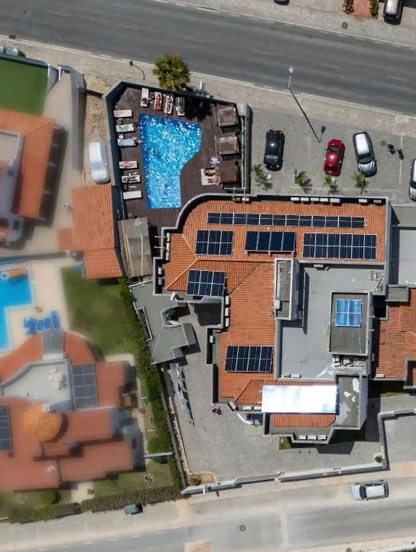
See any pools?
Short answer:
Yes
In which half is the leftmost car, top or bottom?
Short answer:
top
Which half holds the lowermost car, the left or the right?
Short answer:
right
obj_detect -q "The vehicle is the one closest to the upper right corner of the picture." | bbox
[383,0,404,28]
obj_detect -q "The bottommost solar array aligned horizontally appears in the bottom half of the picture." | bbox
[262,385,338,412]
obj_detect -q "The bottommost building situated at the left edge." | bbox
[0,331,154,490]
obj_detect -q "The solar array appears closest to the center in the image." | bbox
[187,270,227,293]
